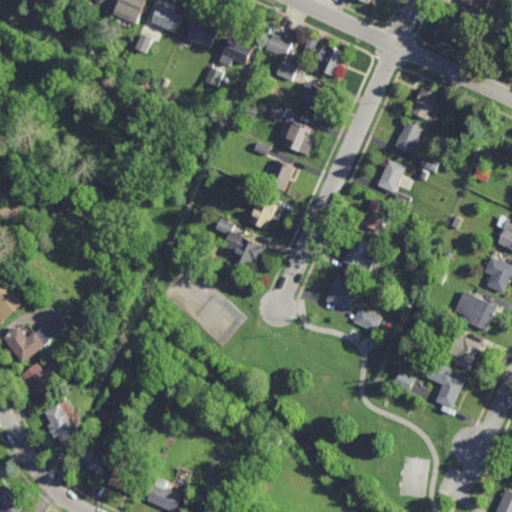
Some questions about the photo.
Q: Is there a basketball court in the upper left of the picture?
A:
No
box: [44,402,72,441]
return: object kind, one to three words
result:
house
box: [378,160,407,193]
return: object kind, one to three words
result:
house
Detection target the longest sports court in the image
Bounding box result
[166,282,248,346]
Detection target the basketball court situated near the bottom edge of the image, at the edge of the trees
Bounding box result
[400,457,430,498]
